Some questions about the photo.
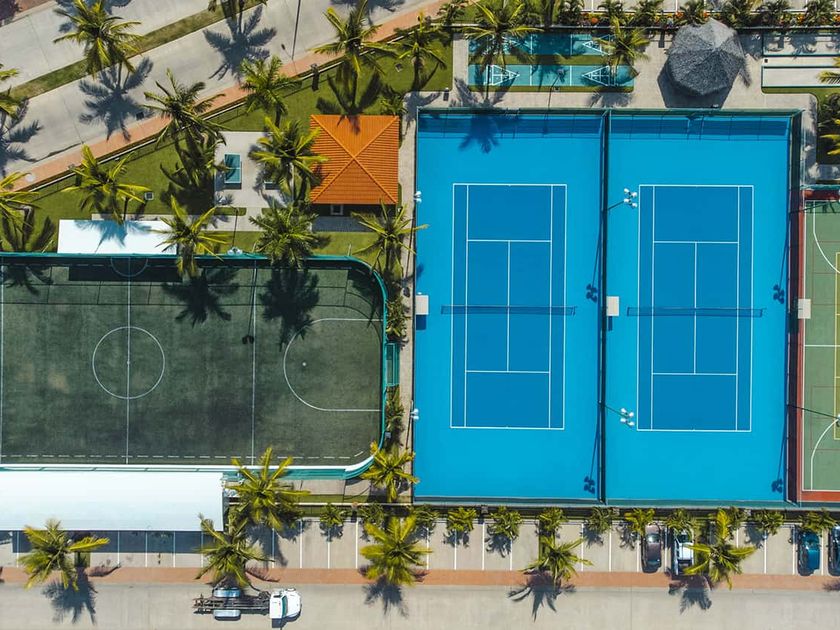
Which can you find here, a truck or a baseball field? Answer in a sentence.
Of the two, only a truck appears.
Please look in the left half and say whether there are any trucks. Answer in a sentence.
Yes, in the left half there is a truck.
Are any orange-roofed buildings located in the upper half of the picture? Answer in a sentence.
Yes, there is an orange-roofed building in the upper half of the picture.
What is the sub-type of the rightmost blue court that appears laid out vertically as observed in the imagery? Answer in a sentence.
The rightmost blue court that appears laid out vertically can be classified as a tennis court.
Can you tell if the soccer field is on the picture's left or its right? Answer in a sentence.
You can find the soccer field on the left side of the picture.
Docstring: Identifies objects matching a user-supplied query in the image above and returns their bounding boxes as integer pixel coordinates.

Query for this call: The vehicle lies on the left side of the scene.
[194,586,304,624]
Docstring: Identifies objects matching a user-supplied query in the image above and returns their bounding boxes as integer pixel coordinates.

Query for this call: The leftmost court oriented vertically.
[413,116,602,498]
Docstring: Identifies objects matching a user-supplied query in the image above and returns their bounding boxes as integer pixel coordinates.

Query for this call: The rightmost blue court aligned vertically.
[605,116,790,500]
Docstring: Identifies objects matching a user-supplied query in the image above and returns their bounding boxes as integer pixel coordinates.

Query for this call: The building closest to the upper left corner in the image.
[308,113,399,204]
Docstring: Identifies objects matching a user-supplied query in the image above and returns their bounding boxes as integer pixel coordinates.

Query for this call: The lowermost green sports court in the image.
[797,190,840,500]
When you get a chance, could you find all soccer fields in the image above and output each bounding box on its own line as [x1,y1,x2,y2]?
[0,258,384,467]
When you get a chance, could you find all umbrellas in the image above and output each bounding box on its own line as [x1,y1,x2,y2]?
[664,15,750,100]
